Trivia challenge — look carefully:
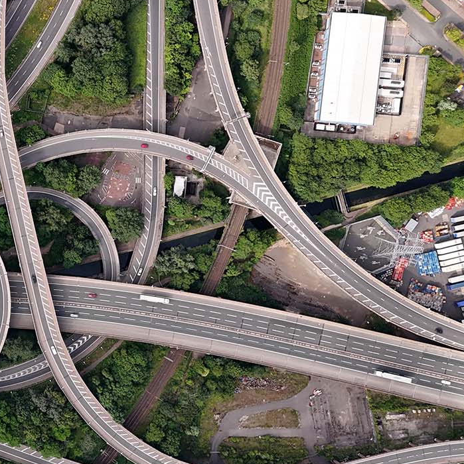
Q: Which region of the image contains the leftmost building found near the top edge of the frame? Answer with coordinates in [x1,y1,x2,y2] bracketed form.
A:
[310,11,410,127]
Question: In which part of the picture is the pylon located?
right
